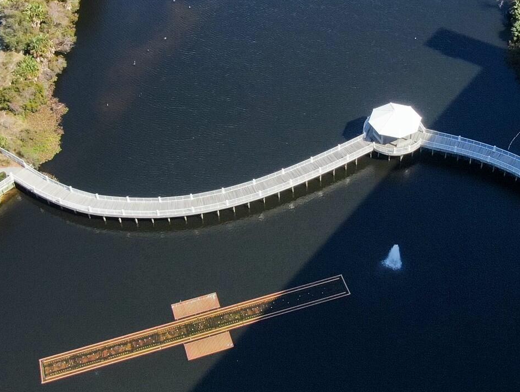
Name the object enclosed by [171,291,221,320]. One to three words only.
pier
